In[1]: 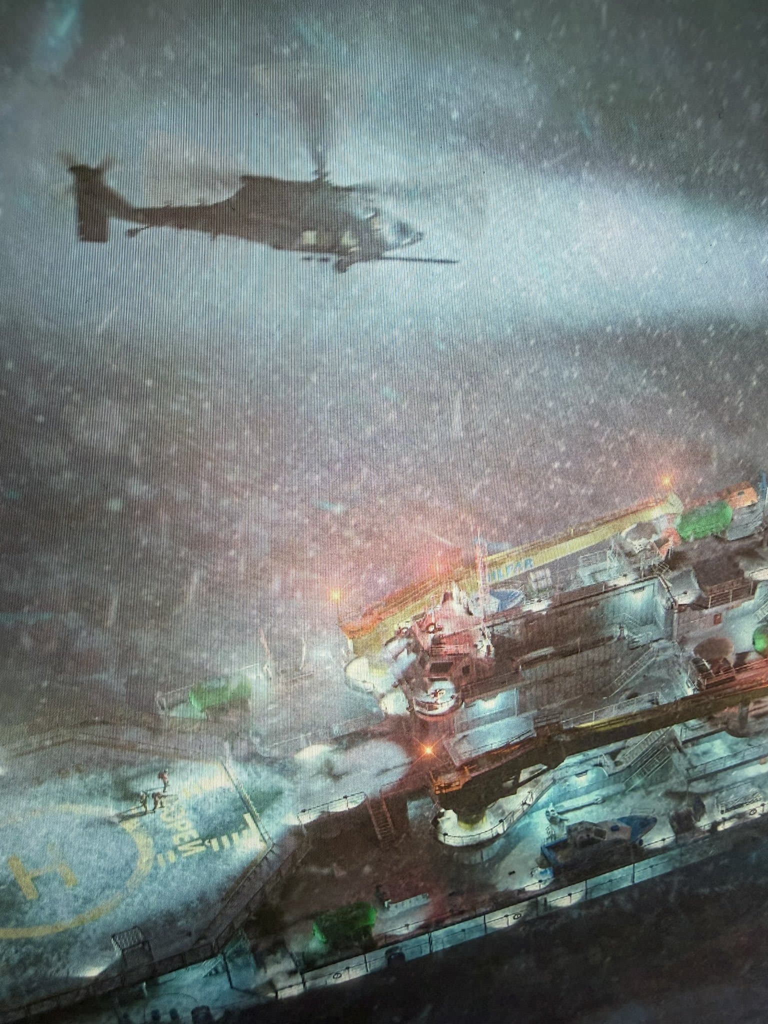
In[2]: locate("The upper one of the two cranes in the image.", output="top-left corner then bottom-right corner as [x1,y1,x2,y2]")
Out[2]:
[316,484,702,709]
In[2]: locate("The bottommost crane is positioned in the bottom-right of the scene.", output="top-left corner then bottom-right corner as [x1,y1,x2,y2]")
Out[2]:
[421,658,768,839]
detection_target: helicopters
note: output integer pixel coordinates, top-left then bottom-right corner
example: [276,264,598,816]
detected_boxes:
[51,92,511,270]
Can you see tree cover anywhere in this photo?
No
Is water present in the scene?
Yes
